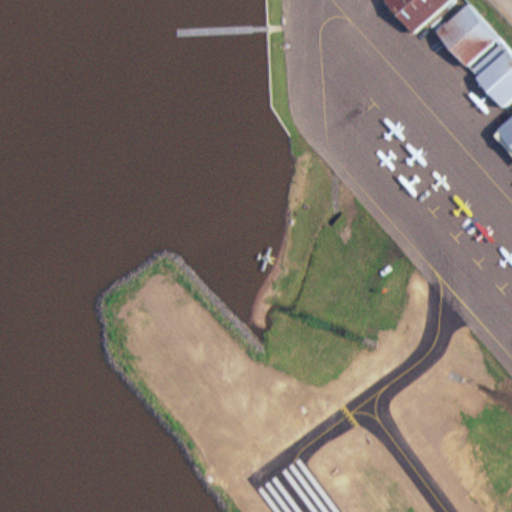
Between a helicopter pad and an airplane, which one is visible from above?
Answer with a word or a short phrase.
airplane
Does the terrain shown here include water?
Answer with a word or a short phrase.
Yes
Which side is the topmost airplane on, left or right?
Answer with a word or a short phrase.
right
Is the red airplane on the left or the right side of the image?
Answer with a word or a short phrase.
right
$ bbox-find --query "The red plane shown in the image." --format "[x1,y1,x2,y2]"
[474,223,494,244]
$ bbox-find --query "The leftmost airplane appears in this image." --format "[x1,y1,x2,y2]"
[256,248,276,271]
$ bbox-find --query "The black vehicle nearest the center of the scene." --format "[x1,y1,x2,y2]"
[328,212,344,226]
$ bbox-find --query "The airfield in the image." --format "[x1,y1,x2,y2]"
[248,0,512,512]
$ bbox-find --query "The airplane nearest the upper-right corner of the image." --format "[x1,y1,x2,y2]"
[469,92,490,114]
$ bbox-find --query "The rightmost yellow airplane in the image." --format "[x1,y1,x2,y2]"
[451,196,473,218]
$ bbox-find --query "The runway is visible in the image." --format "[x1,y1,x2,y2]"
[258,454,348,512]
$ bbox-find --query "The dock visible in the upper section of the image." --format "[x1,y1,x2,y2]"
[176,24,269,37]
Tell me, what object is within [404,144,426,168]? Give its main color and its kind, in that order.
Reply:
white airplane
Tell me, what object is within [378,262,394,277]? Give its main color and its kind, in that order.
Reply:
white vehicle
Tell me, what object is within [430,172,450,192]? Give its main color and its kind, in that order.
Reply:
white airplane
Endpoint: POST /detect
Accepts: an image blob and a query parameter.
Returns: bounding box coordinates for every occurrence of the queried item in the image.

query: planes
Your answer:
[451,196,473,218]
[256,248,276,271]
[404,144,426,168]
[382,118,404,142]
[377,150,398,171]
[469,92,490,114]
[474,223,494,244]
[399,174,422,196]
[430,172,450,192]
[498,247,512,270]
